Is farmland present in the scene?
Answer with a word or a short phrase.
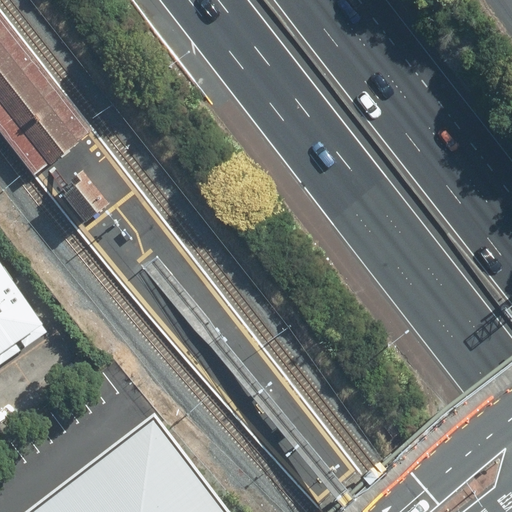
No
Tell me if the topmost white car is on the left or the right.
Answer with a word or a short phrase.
right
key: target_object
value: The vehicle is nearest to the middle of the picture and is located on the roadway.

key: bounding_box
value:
[310,140,334,168]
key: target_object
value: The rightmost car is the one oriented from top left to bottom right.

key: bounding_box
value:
[476,246,502,275]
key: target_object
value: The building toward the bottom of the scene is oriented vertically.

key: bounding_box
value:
[0,256,48,365]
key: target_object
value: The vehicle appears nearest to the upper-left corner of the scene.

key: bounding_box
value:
[194,0,218,22]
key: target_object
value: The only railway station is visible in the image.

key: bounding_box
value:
[0,46,362,508]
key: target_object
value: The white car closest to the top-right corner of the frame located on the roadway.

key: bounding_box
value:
[356,90,382,120]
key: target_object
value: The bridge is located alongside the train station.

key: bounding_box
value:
[336,360,512,512]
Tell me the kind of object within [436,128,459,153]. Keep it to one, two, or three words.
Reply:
car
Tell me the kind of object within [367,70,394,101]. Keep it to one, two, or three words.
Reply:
car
